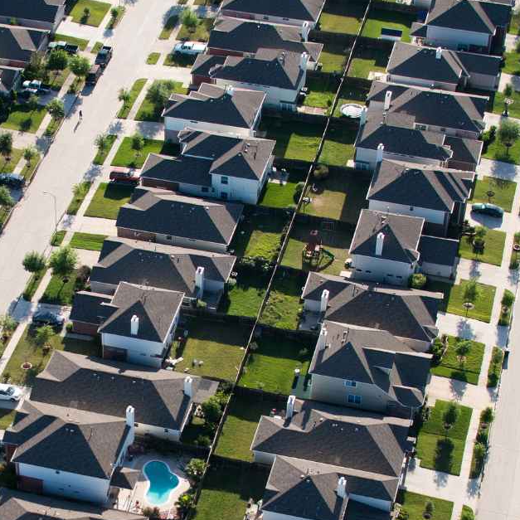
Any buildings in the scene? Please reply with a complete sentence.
Yes, you can see a building in this photo.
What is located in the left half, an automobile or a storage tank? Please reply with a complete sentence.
Visible in the left half is an automobile.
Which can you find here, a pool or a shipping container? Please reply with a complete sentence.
The image shows a pool.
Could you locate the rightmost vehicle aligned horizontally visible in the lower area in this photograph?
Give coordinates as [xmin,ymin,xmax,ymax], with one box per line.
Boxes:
[32,309,66,325]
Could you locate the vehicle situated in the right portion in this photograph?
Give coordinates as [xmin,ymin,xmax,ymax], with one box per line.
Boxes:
[469,199,500,213]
